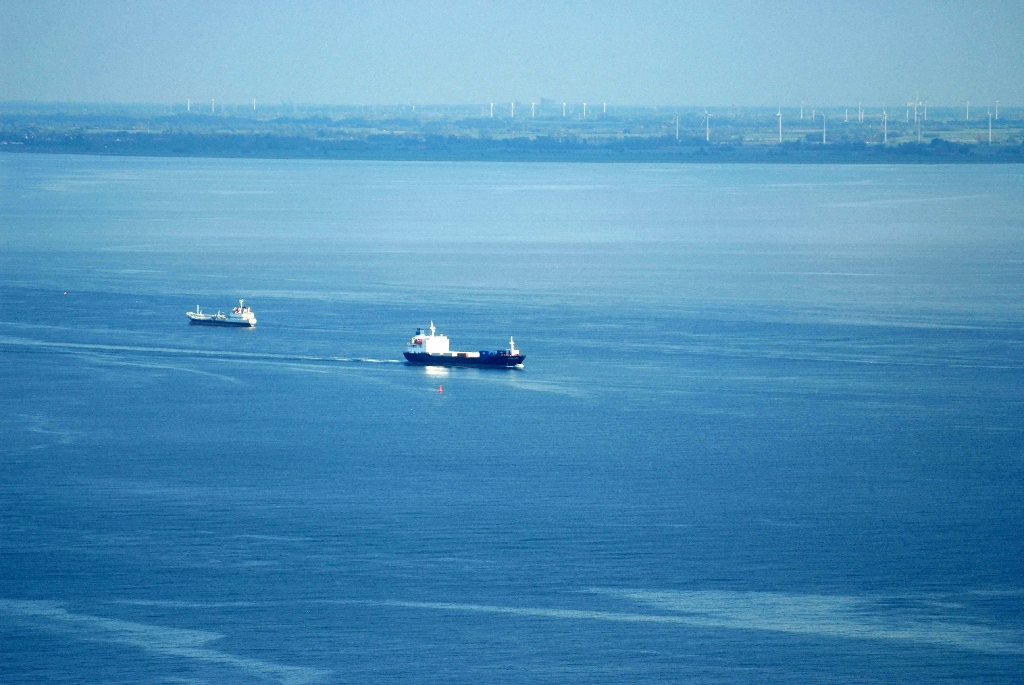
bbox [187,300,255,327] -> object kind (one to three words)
ship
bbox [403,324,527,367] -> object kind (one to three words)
ship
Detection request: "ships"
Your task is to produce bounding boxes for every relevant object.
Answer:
[187,300,255,327]
[403,324,527,367]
